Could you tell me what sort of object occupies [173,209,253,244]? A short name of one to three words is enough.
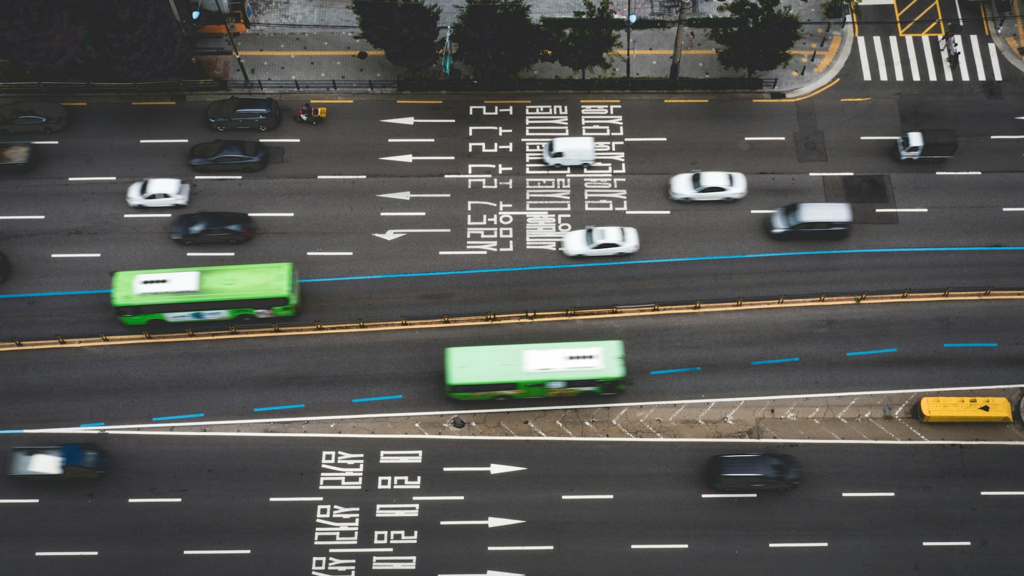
car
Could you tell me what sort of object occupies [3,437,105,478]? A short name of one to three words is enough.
truck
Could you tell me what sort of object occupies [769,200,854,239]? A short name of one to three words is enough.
van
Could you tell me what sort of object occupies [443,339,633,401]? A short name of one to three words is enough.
bus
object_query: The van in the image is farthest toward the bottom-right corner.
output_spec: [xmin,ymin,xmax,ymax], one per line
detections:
[707,447,801,490]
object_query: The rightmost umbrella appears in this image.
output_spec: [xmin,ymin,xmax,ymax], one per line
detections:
[947,22,962,34]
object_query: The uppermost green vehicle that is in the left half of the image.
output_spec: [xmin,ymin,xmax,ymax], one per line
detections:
[104,263,295,326]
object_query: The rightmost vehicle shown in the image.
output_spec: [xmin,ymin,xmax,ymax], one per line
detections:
[897,128,965,161]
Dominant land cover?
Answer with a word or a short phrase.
paved ground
